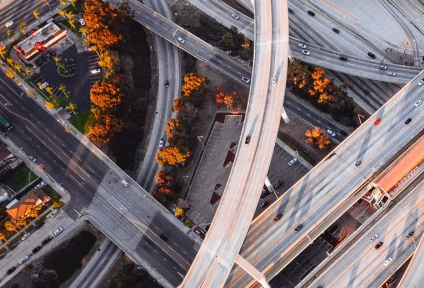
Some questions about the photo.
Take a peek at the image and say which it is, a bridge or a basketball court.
bridge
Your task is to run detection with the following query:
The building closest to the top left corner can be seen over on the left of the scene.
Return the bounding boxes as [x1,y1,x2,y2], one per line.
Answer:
[14,26,68,64]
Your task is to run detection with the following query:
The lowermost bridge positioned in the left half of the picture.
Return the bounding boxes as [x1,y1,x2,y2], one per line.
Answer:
[90,183,180,260]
